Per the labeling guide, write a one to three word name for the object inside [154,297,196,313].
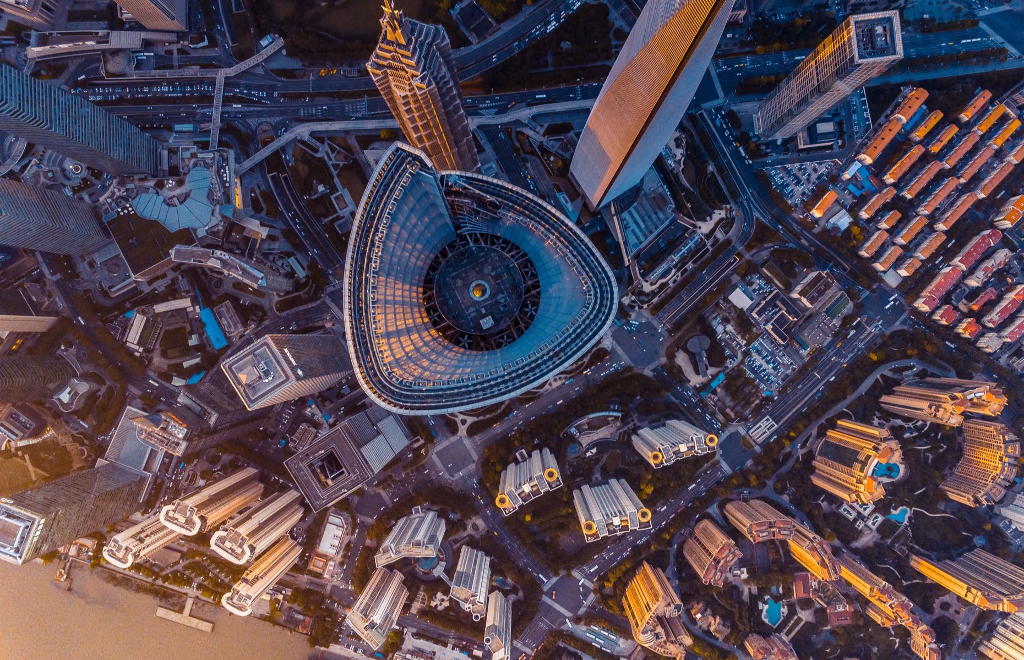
building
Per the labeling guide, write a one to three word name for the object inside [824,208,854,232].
shed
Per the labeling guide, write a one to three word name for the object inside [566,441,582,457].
swimming pool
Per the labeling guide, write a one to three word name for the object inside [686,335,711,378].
building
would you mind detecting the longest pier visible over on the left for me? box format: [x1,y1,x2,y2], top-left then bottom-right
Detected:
[156,598,214,632]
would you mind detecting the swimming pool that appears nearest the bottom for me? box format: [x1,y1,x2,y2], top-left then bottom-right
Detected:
[812,631,838,646]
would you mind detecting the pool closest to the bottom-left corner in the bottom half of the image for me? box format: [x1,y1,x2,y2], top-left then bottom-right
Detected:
[416,555,440,575]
